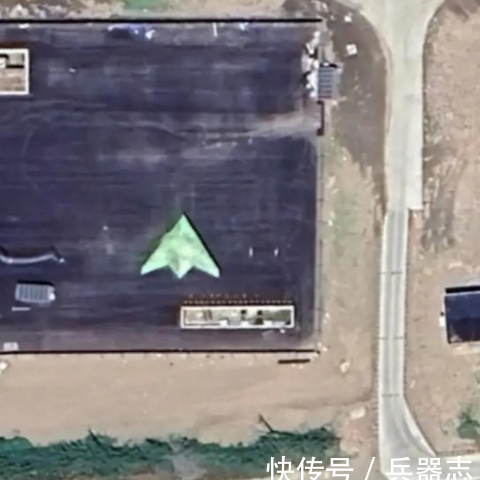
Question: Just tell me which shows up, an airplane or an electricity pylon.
airplane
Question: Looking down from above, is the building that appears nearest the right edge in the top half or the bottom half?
bottom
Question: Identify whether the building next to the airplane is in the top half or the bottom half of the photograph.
bottom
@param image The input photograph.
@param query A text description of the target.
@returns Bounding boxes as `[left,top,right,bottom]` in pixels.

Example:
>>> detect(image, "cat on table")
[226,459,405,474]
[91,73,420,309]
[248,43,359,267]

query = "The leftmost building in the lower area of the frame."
[181,306,297,330]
